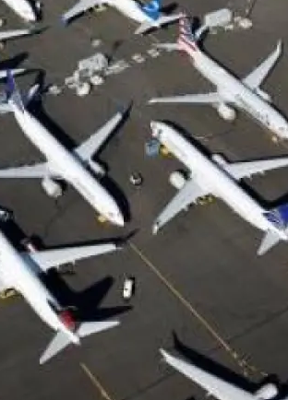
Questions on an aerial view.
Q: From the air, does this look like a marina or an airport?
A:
airport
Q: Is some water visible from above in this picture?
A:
No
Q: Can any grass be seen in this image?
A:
No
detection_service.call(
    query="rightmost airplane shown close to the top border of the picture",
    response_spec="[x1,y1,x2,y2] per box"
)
[154,15,288,139]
